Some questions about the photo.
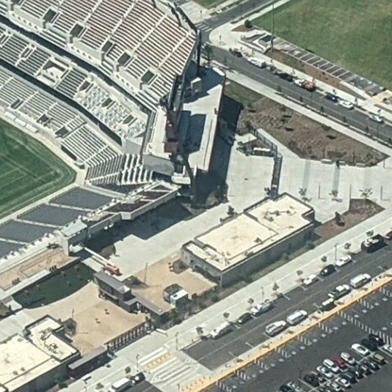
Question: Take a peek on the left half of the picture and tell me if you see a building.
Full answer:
Yes, a building is visible on the left half of the picture.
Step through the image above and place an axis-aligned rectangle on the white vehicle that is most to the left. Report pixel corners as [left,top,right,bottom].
[110,375,132,391]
